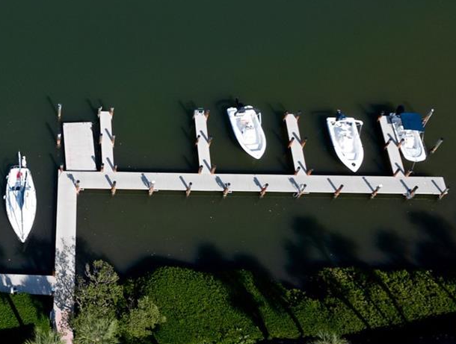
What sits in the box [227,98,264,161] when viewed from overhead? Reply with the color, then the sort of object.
white boat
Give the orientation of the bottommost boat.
up and down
